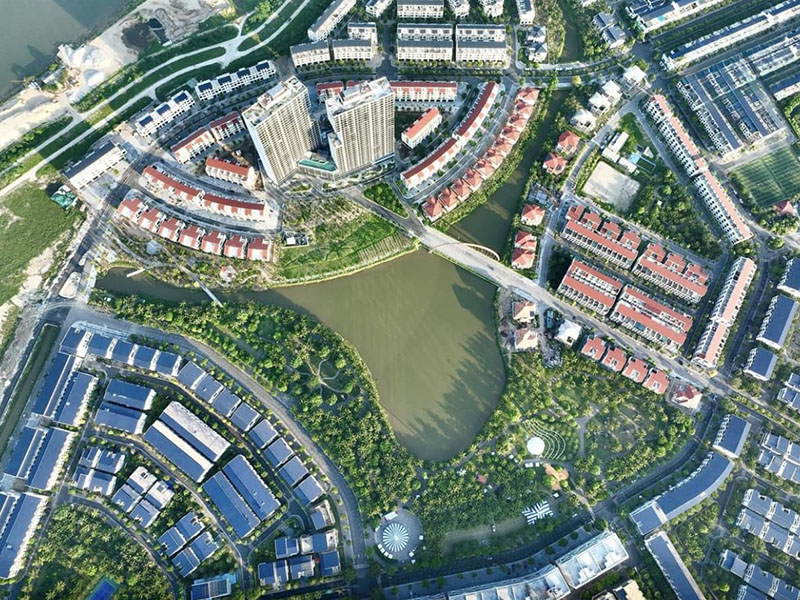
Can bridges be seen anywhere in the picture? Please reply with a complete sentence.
Yes, a bridge can be made out from above.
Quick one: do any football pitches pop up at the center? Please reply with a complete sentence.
No, the scene shows no football pitch at the center.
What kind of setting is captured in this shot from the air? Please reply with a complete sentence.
What you see here is a residential area.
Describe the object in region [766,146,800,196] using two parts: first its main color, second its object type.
green soccer field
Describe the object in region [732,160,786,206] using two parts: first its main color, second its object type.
green soccer field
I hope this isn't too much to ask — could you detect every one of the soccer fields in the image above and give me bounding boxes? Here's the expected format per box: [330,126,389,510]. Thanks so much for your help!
[732,160,786,206]
[766,146,800,196]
